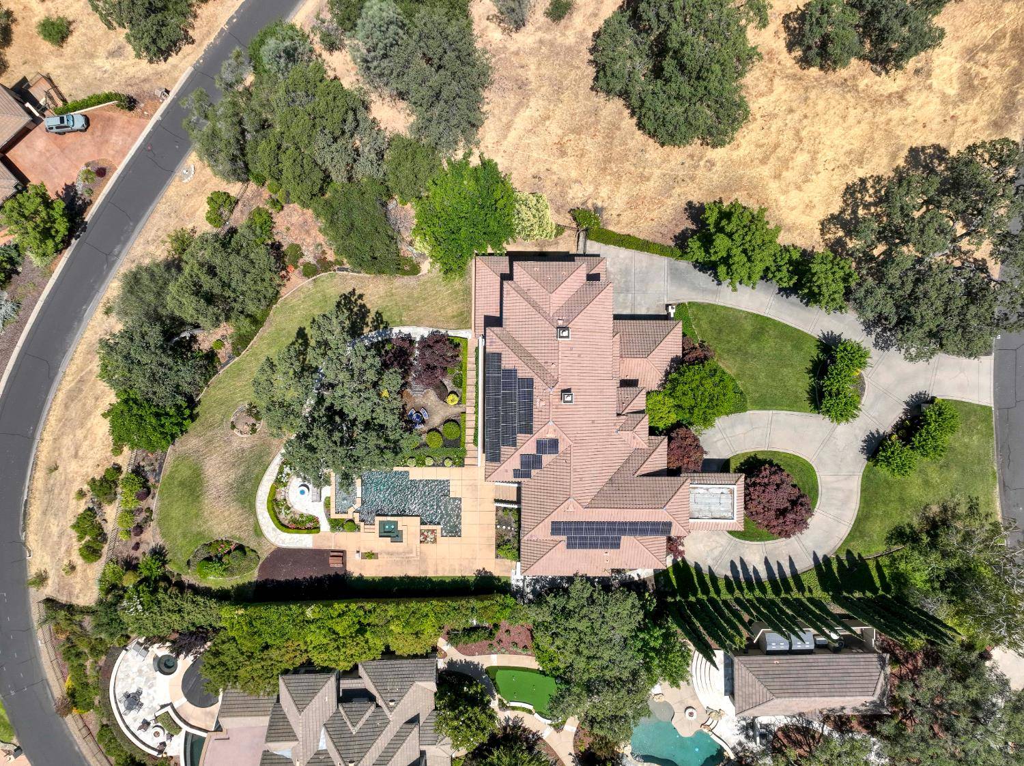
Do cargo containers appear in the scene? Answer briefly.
No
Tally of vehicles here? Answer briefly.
one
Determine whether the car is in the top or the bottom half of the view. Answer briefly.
top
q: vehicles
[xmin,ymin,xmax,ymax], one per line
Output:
[39,111,85,132]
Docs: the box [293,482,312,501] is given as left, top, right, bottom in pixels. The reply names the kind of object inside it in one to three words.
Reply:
fountain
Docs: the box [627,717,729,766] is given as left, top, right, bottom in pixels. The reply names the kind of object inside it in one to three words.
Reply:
swimming pool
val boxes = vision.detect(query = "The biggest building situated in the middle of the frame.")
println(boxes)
[471,255,746,591]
